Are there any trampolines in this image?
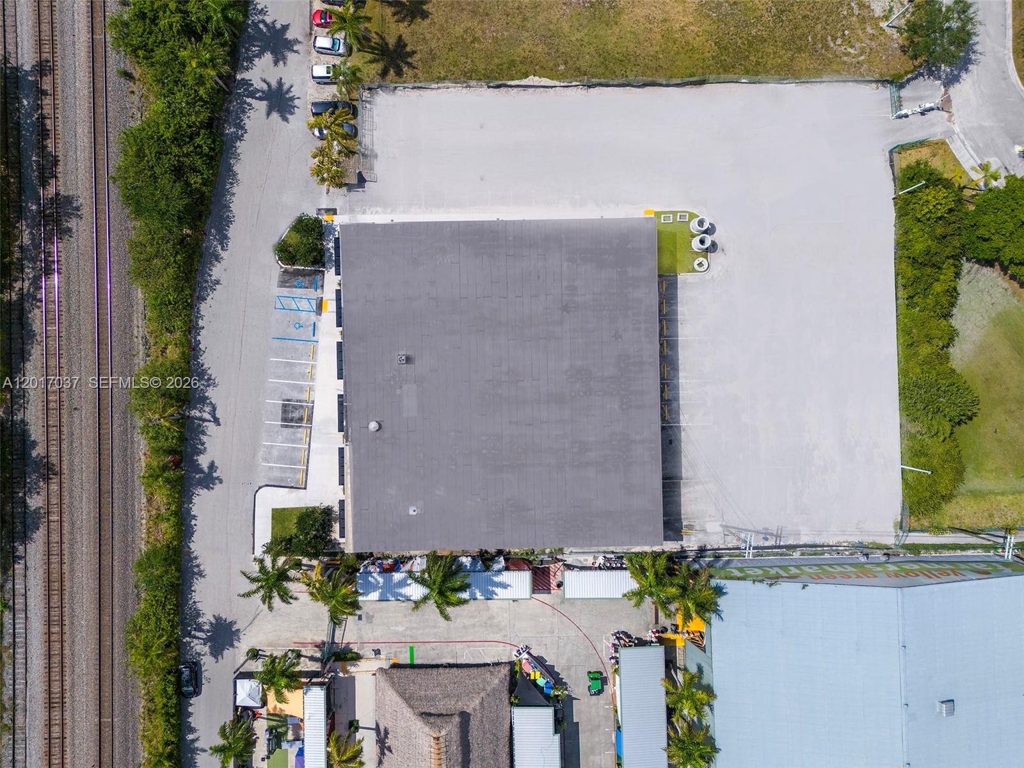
No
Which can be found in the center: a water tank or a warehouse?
warehouse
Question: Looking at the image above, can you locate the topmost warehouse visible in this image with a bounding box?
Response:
[334,215,664,552]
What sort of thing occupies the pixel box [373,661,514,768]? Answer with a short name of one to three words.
building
